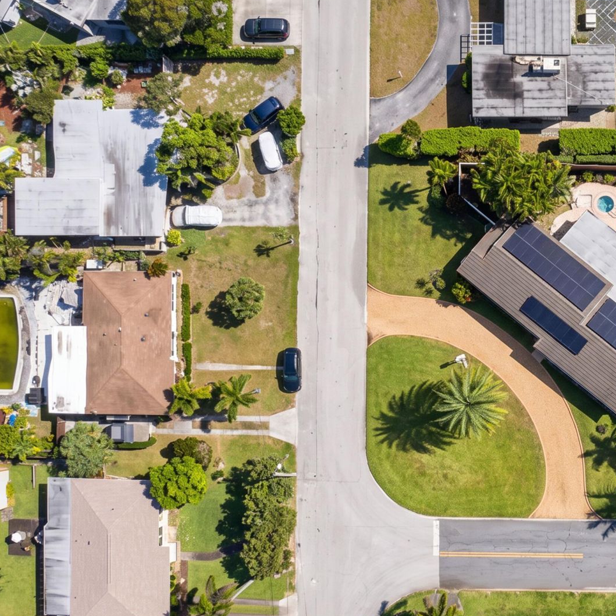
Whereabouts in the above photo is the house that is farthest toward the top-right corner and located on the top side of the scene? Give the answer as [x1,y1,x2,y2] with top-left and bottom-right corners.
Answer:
[471,0,615,119]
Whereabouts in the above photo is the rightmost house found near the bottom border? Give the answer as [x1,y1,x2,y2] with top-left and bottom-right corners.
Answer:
[45,474,189,616]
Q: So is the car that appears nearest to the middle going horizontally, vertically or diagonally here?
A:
vertically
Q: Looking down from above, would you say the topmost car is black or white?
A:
black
